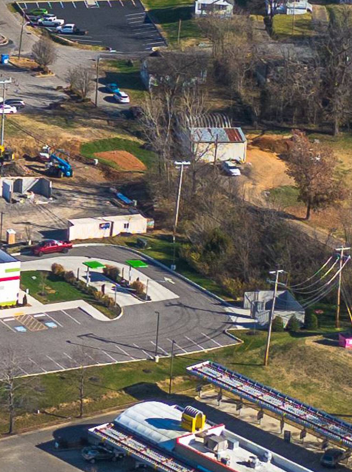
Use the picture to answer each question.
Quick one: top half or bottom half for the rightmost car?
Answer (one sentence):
It is in the bottom half that the rightmost car appears.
